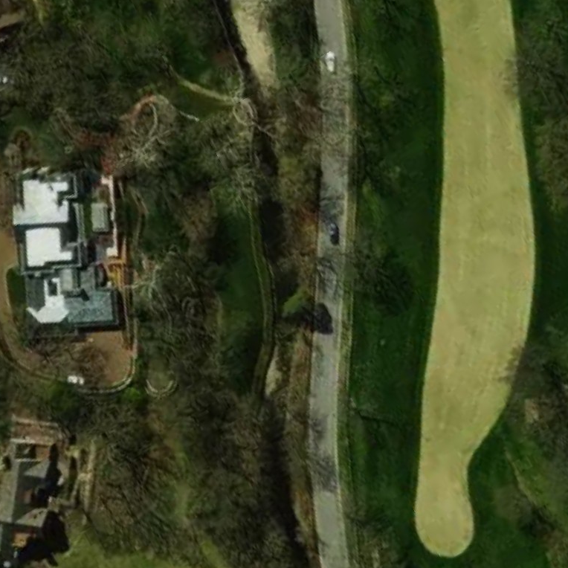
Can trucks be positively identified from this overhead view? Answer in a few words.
No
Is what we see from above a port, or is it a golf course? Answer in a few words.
golf course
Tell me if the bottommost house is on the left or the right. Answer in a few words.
left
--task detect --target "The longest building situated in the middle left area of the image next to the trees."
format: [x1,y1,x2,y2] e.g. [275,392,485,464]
[14,175,120,336]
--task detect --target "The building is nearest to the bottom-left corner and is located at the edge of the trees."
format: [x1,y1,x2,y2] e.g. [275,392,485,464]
[0,458,51,561]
